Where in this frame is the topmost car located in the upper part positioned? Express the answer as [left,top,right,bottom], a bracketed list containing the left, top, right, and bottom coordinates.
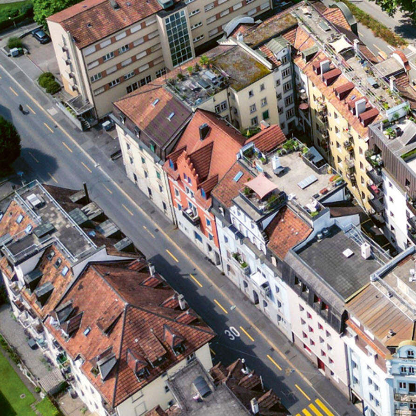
[29,23,51,41]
